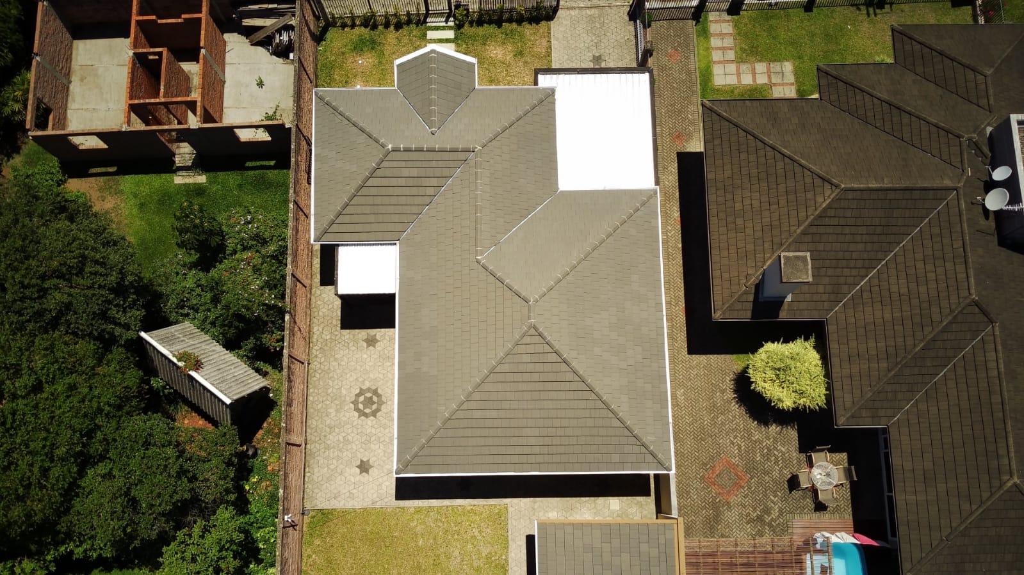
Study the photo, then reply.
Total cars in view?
0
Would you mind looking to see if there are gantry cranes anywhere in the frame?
No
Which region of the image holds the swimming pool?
bottom right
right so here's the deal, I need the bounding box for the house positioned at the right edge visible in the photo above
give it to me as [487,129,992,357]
[697,21,1024,575]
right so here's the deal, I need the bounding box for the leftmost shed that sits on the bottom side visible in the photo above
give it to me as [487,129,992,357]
[138,322,273,427]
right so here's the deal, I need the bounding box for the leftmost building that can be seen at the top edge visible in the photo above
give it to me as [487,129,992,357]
[22,0,296,176]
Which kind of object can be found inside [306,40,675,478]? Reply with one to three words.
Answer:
house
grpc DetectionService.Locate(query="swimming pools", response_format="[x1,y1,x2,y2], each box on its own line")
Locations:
[826,544,869,575]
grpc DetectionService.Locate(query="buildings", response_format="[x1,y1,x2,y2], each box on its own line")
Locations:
[22,0,296,176]
[697,21,1024,575]
[534,513,690,575]
[138,322,273,427]
[306,40,675,478]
